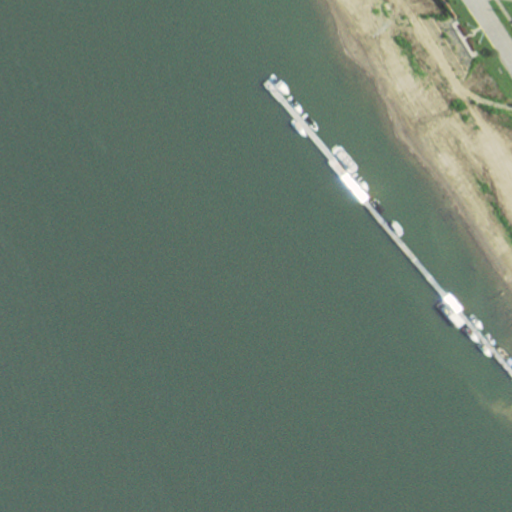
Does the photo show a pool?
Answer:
No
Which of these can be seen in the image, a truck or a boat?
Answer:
boat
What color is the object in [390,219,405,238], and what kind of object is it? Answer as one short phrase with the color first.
white boat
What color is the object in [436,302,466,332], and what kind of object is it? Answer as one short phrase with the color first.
white boat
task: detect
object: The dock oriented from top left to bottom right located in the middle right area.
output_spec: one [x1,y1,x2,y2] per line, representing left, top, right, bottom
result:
[260,76,512,376]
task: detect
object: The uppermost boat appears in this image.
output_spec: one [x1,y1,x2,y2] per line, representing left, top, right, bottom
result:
[268,70,290,96]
